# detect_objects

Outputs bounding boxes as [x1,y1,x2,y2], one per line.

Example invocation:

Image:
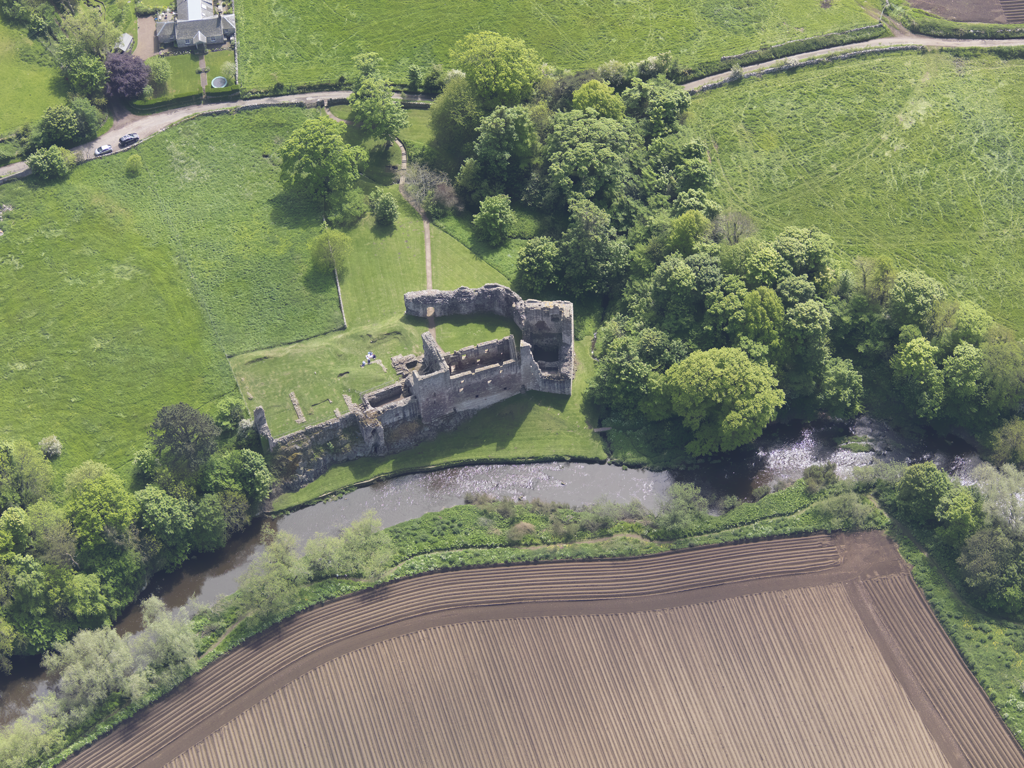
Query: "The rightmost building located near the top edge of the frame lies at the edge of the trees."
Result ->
[156,0,237,57]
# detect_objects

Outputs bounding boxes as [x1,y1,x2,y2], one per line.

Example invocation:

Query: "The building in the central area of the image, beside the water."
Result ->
[254,277,574,457]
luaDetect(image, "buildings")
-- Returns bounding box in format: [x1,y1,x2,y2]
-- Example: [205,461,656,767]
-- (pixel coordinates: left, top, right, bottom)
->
[254,277,574,457]
[156,0,237,57]
[114,29,132,51]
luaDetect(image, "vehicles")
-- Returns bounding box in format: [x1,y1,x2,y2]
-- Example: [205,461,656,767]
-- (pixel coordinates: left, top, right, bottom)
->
[94,143,113,153]
[118,132,140,145]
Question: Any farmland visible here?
Yes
